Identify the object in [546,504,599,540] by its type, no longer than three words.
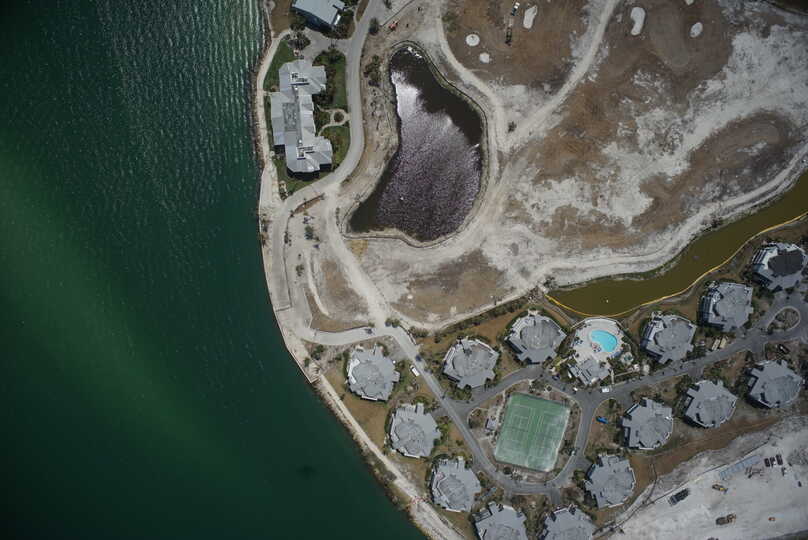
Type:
house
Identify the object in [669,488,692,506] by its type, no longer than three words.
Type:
vehicle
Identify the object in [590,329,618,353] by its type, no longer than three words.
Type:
swimming pool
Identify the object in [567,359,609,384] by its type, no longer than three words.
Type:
building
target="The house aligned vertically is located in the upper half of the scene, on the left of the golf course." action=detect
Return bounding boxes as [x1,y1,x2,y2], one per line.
[271,58,333,173]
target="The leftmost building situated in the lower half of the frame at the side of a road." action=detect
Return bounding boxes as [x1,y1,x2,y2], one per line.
[347,351,400,403]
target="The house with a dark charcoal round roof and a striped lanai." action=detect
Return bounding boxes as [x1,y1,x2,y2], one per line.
[746,242,808,291]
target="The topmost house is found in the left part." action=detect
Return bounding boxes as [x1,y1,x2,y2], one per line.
[296,0,344,28]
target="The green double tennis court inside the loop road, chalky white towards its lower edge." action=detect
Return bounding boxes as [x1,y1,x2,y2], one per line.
[495,393,570,472]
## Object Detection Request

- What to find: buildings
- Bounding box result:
[567,359,609,384]
[546,504,599,540]
[388,408,441,461]
[511,313,568,363]
[443,339,499,389]
[680,375,742,426]
[347,351,400,403]
[635,316,698,366]
[471,508,531,540]
[588,453,638,507]
[430,460,483,514]
[746,242,808,291]
[296,0,344,28]
[622,396,676,448]
[745,355,806,407]
[271,58,333,173]
[696,281,757,334]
